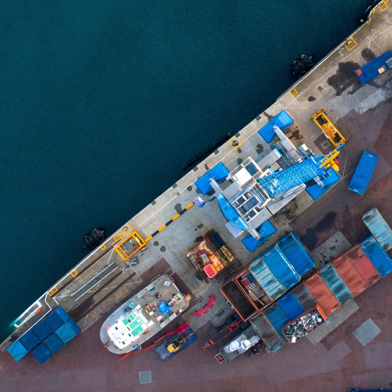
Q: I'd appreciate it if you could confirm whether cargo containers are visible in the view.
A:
Yes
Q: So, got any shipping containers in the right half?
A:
Yes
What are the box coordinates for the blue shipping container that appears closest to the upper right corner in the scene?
[350,148,379,193]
